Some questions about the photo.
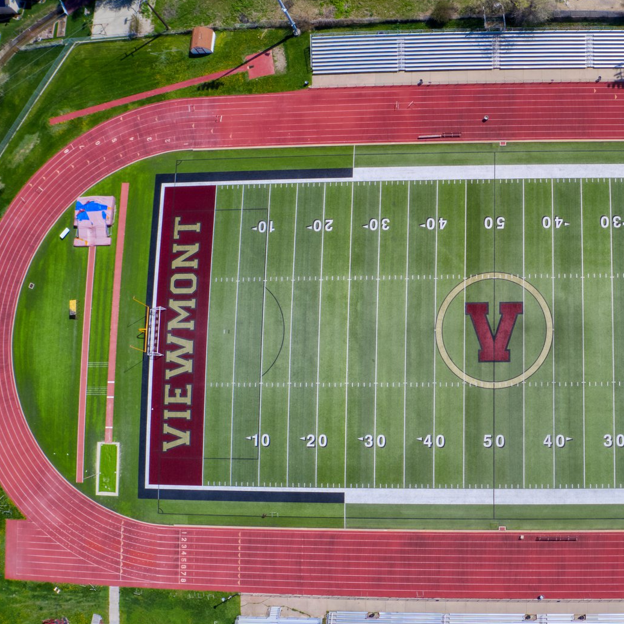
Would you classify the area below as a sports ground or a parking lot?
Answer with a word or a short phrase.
sports ground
